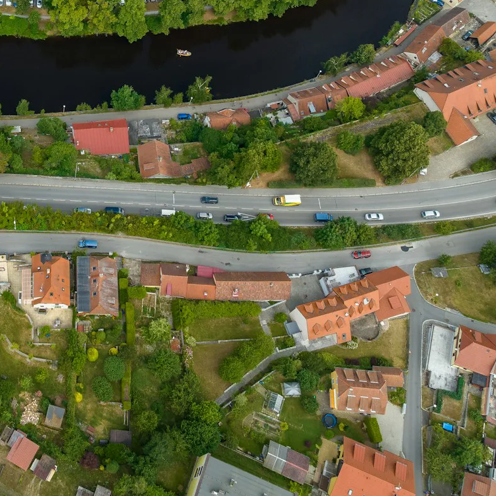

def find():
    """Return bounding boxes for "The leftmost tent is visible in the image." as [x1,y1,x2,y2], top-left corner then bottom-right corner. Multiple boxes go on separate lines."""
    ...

[278,380,301,400]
